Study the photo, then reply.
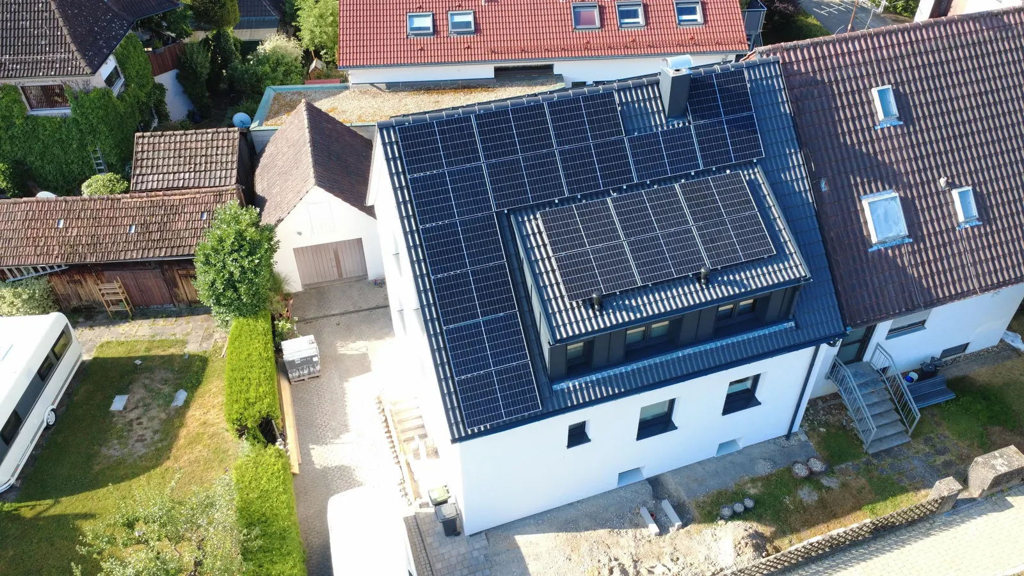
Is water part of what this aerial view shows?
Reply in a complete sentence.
No, there is no water in the image.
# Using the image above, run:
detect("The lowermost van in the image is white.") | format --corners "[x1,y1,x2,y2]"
[327,488,424,576]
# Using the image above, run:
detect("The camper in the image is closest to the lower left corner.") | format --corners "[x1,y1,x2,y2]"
[0,311,85,497]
